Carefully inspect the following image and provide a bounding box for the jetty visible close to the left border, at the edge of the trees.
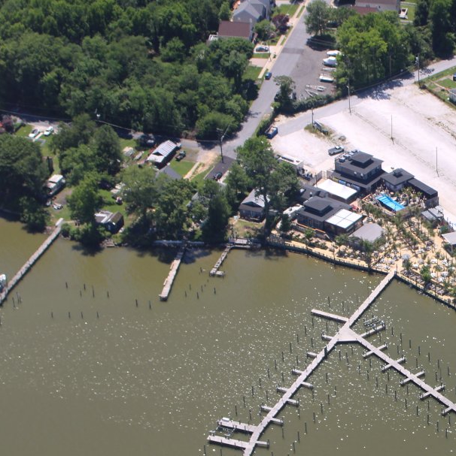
[0,222,65,310]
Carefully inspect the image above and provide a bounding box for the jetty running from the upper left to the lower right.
[349,321,456,420]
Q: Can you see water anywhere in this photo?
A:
Yes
